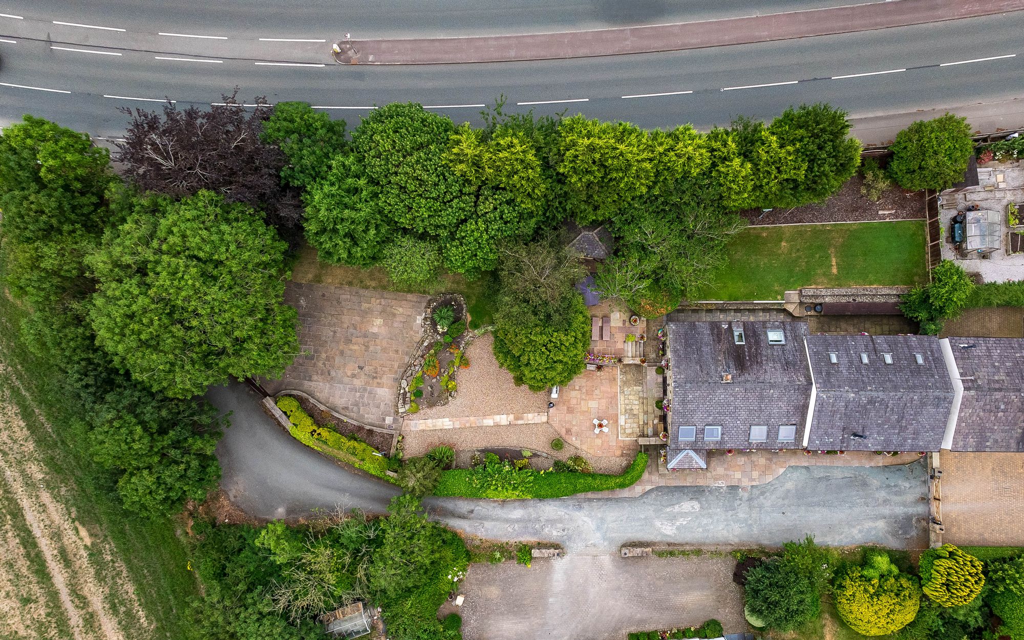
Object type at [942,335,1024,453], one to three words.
house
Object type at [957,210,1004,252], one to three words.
greenhouse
